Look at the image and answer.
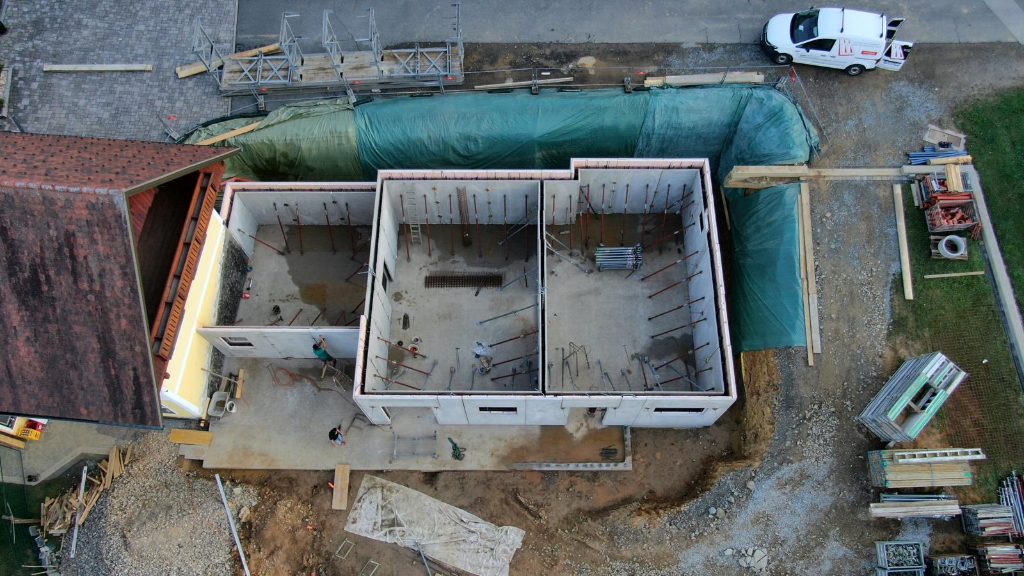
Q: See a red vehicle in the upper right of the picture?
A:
No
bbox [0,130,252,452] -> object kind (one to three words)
house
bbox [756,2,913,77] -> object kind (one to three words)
van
